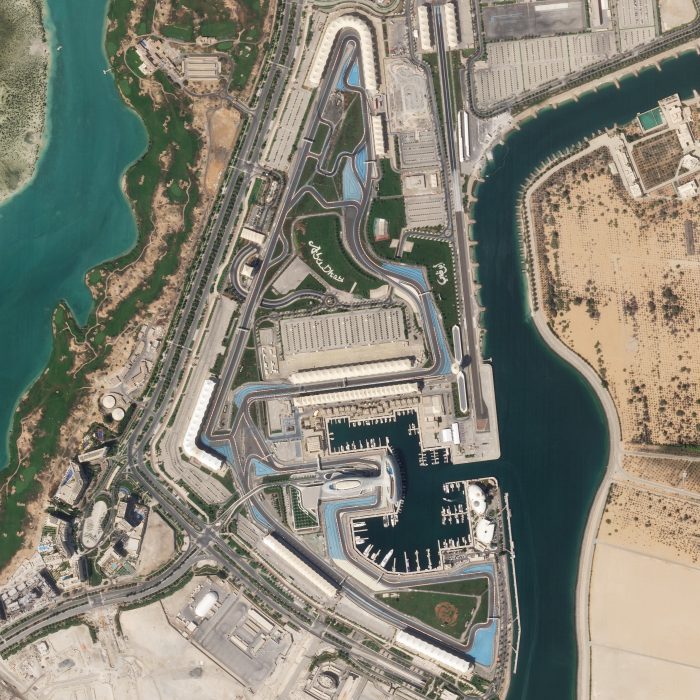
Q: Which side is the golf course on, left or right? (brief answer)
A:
left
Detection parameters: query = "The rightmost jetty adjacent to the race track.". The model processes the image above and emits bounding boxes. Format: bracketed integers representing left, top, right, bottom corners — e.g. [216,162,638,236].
[502,494,519,672]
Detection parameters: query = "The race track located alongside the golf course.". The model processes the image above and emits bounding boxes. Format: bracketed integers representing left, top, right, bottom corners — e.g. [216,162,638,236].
[201,28,498,667]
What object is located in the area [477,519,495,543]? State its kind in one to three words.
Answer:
building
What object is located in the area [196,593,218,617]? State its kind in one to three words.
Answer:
tent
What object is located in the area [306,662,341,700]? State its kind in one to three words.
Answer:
building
